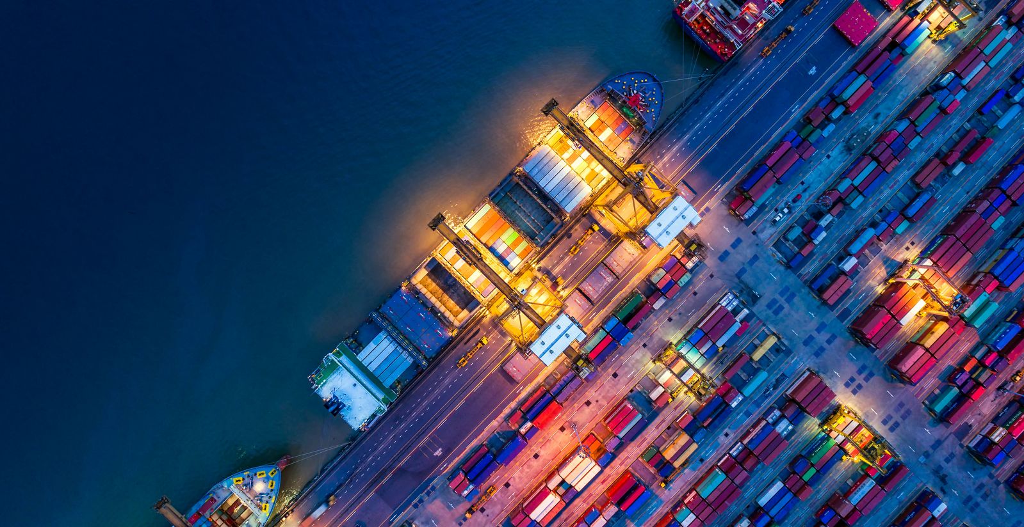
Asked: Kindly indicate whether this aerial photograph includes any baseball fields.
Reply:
No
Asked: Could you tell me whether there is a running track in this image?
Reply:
No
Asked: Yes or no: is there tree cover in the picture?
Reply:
No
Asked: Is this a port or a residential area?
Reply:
port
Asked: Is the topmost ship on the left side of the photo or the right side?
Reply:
right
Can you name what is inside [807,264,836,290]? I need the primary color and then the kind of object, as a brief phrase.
blue shipping container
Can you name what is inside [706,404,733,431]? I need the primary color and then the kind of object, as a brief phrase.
blue shipping container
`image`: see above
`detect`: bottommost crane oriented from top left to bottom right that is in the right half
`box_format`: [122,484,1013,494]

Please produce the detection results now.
[817,404,899,474]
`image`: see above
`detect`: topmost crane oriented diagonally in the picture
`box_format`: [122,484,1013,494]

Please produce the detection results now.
[541,92,714,266]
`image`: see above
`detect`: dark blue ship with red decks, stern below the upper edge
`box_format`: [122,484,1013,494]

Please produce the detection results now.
[673,0,787,62]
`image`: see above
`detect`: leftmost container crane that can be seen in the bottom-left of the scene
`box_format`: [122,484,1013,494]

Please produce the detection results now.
[155,493,205,527]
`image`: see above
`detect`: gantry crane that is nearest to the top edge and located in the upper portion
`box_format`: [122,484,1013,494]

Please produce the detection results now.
[896,0,983,47]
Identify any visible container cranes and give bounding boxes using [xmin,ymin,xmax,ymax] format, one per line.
[541,92,714,266]
[651,340,720,405]
[906,265,972,319]
[155,493,205,527]
[896,0,983,47]
[817,404,899,474]
[425,211,599,382]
